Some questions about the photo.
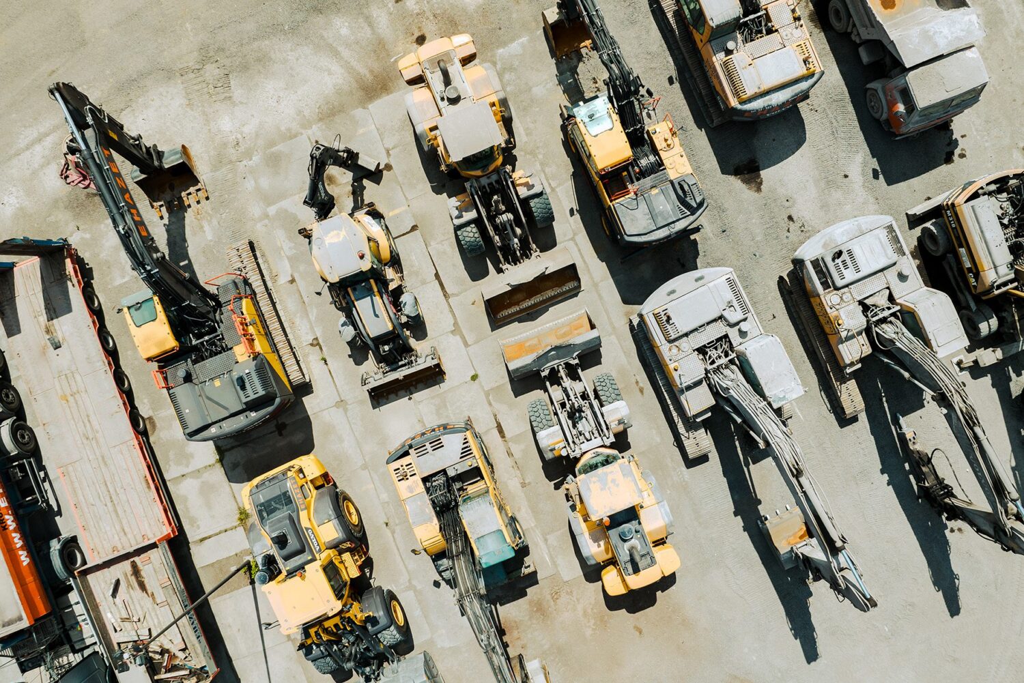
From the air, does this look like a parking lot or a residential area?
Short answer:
parking lot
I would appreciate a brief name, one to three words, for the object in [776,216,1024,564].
work vehicle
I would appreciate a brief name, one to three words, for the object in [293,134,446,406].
work vehicle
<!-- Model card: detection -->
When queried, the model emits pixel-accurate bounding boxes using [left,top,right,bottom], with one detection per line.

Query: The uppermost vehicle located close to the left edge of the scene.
[44,78,315,440]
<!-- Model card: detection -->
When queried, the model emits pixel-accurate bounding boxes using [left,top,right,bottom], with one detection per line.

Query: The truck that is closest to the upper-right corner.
[827,0,987,149]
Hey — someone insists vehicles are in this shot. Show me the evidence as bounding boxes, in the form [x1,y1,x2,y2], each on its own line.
[242,450,442,683]
[44,78,315,440]
[902,168,1024,374]
[0,352,116,683]
[386,416,541,683]
[827,0,987,149]
[540,0,707,249]
[293,134,446,406]
[627,267,883,613]
[651,0,824,126]
[493,299,680,595]
[399,34,586,322]
[776,216,1024,564]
